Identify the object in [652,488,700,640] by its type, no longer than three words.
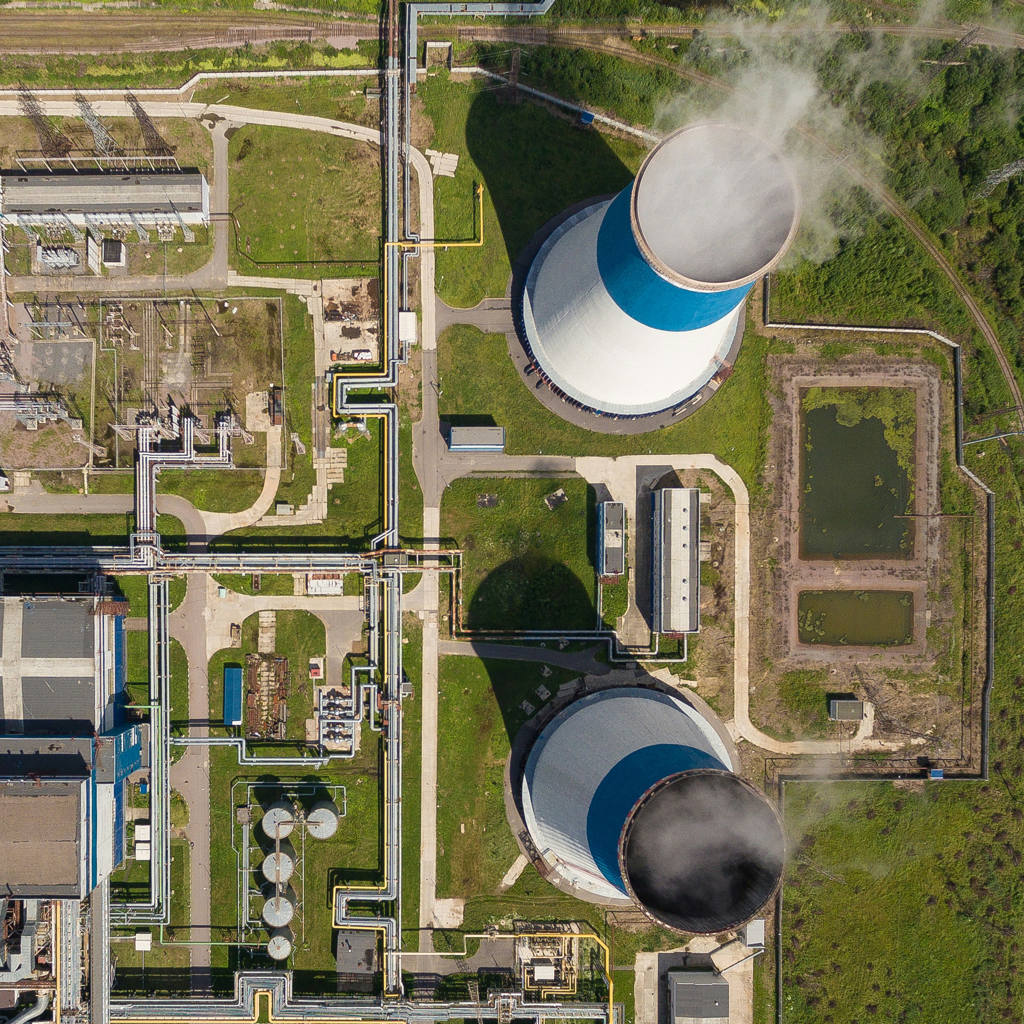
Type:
building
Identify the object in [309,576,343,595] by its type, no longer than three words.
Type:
shed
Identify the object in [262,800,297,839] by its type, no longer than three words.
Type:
storage tank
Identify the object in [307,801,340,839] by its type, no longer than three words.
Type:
storage tank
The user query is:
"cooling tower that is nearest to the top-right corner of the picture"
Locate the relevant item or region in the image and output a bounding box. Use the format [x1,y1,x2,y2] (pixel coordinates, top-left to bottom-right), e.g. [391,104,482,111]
[507,122,801,435]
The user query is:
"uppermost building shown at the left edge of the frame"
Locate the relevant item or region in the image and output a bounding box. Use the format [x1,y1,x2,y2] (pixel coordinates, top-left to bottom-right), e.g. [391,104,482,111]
[0,174,208,225]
